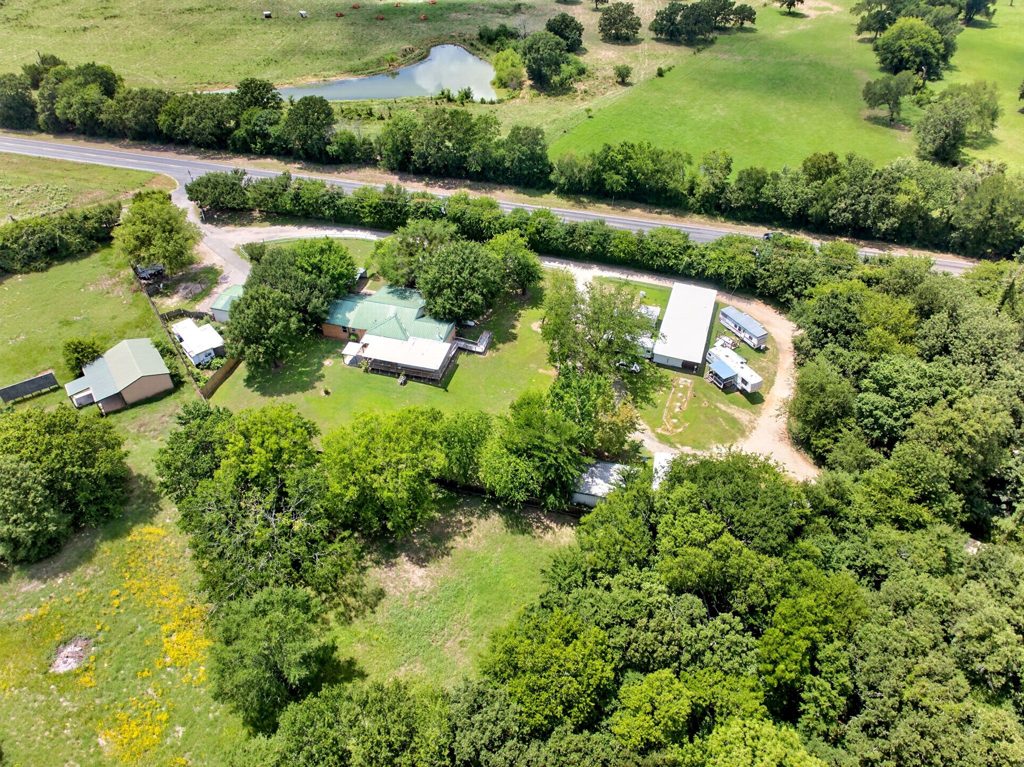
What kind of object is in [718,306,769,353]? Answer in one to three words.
vehicle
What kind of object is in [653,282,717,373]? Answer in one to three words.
shed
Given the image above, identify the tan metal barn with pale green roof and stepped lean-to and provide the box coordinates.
[65,339,174,413]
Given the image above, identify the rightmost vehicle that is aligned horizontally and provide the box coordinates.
[762,233,791,246]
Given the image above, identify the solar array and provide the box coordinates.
[0,369,62,403]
